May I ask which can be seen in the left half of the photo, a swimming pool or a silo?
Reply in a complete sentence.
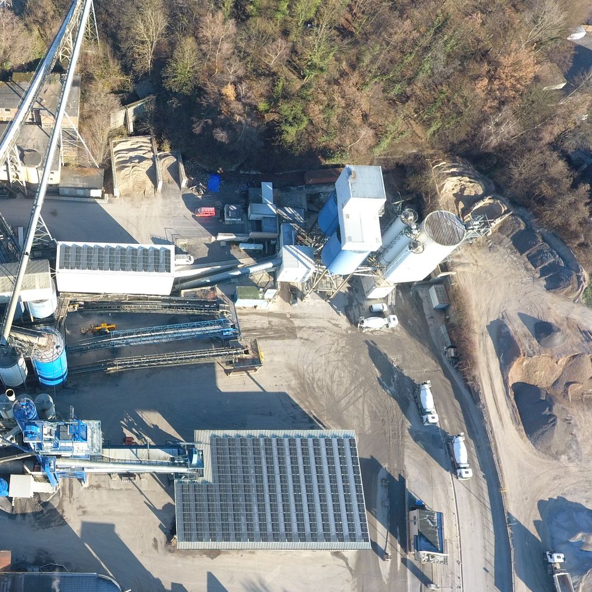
Visible in the left half of the photo is a silo.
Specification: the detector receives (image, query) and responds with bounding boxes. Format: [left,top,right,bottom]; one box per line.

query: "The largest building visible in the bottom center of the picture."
[173,431,372,551]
